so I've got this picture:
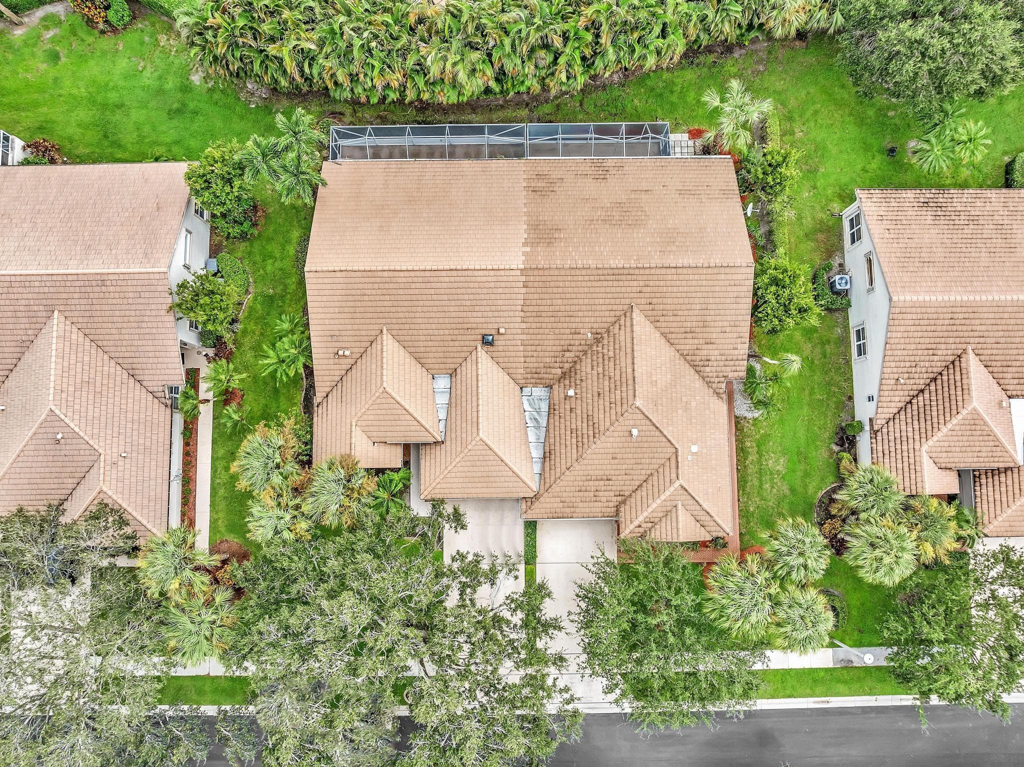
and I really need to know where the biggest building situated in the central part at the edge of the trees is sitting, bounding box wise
[303,157,757,542]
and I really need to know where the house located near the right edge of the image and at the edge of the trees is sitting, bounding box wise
[841,183,1024,526]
